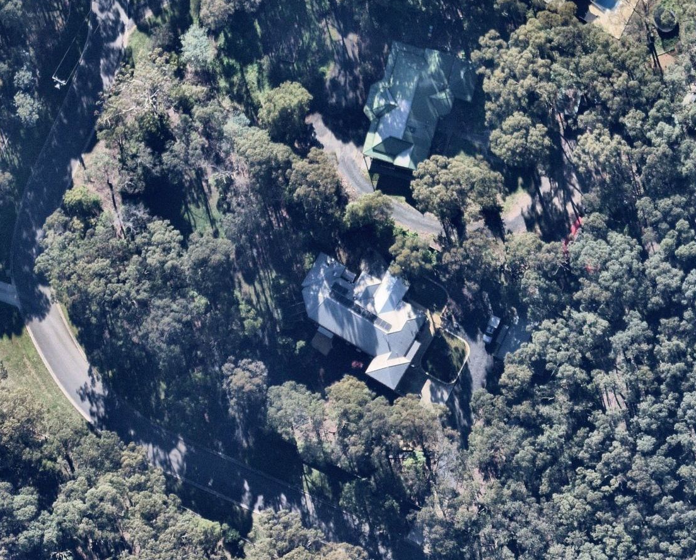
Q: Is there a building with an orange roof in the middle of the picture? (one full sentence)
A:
No, I see no building with an orange roof in the middle of the picture.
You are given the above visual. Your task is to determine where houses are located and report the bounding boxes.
[301,252,427,392]
[363,40,476,175]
